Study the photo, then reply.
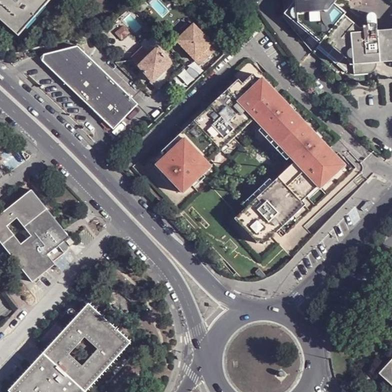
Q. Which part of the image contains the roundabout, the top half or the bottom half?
bottom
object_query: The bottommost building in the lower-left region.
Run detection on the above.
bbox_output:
[9,303,130,392]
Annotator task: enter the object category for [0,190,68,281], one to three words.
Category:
building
